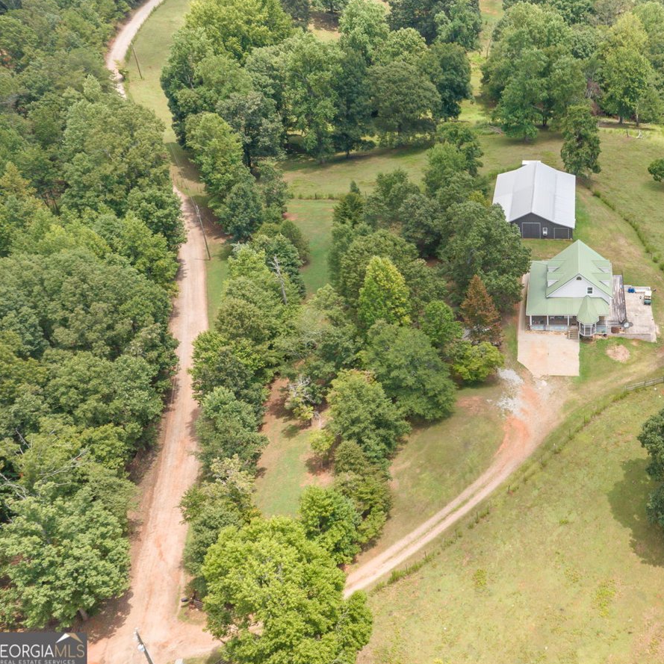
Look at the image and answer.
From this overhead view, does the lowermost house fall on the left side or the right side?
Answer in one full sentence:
You can find the lowermost house on the right side of the picture.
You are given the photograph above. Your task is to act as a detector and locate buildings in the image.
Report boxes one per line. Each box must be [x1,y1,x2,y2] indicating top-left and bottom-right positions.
[490,159,575,239]
[524,238,611,334]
